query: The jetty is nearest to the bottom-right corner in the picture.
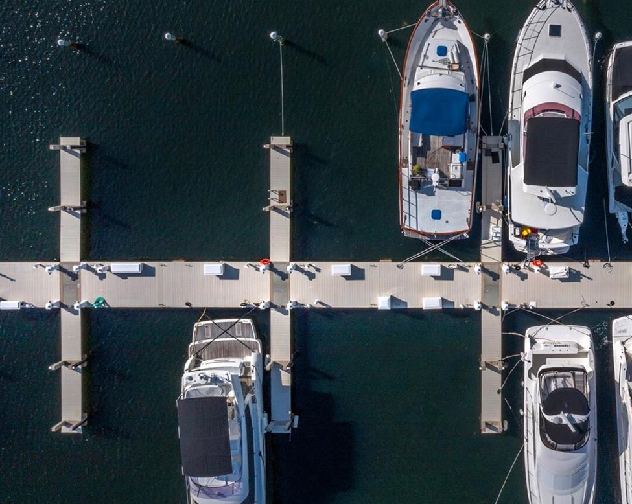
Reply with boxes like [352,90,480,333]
[481,309,501,433]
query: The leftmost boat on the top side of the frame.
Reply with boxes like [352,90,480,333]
[398,0,480,241]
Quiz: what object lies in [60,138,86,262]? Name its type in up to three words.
pier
